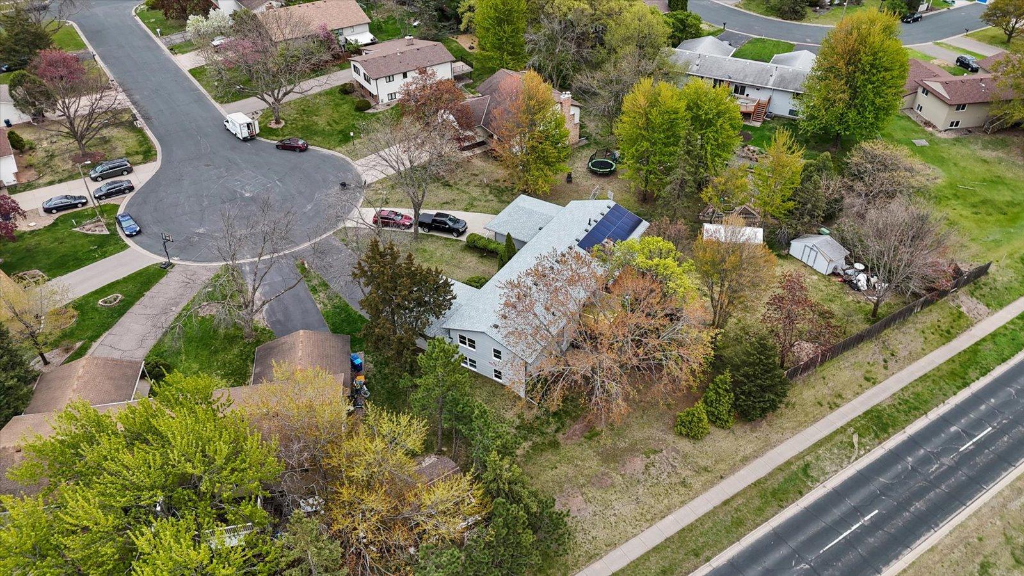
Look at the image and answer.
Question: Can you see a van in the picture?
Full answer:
Yes, the picture does show a van.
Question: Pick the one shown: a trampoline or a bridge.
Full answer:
This aerial view contains a trampoline.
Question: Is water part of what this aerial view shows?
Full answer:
No, no water is visible.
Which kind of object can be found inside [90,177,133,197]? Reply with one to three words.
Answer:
car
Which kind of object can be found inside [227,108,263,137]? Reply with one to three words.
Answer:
van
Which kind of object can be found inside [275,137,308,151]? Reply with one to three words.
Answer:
car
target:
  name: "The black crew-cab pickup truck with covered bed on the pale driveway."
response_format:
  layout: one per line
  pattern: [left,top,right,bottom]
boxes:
[419,210,470,236]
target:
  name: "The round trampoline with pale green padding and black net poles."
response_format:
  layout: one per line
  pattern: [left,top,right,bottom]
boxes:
[588,150,619,175]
